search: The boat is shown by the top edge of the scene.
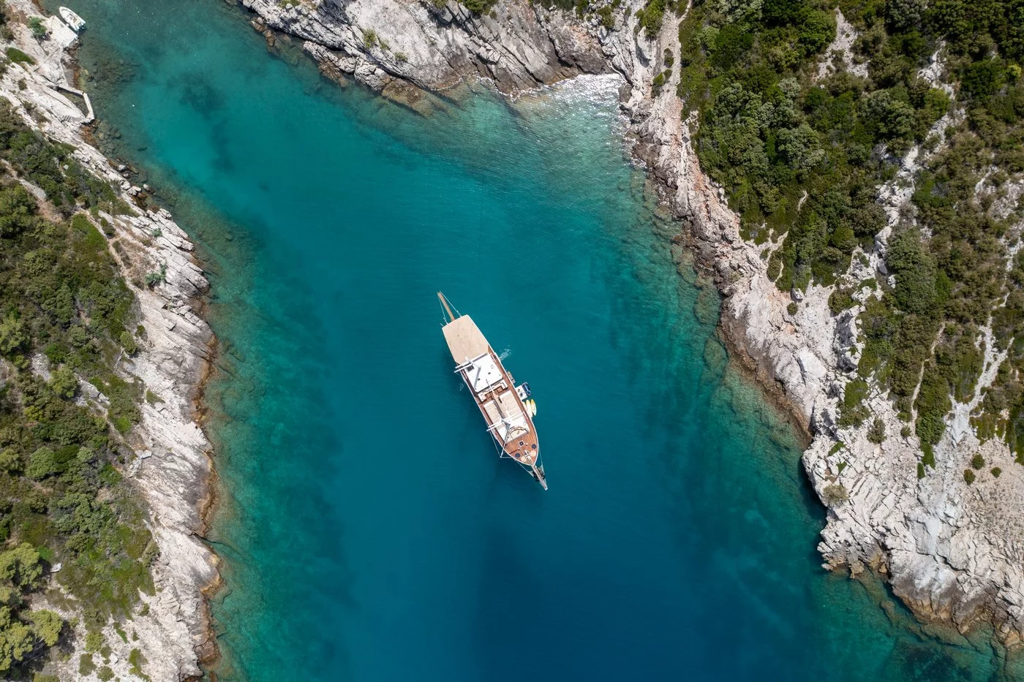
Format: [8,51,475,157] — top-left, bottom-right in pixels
[58,5,87,35]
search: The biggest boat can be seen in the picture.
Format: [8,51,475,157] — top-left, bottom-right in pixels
[438,293,548,493]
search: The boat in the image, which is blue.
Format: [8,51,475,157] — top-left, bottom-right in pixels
[520,382,532,397]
